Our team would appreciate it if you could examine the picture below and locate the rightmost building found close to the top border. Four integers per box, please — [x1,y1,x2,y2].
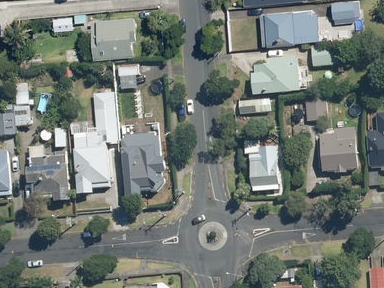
[332,0,362,25]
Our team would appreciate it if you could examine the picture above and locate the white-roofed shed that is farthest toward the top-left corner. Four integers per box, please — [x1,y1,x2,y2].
[52,17,74,33]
